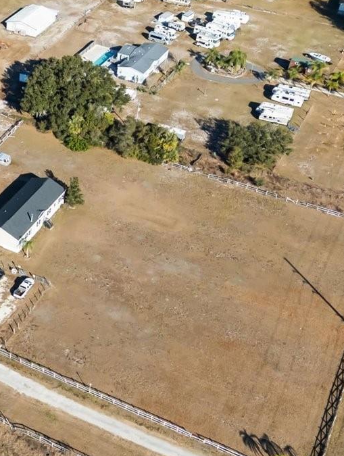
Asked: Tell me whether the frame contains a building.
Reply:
Yes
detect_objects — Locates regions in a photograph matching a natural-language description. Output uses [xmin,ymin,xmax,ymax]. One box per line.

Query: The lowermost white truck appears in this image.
[11,278,37,301]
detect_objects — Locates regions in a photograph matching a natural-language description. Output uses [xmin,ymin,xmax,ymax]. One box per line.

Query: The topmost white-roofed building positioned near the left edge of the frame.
[4,0,63,37]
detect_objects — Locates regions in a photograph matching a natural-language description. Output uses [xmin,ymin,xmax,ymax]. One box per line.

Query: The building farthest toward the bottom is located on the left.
[0,176,64,252]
